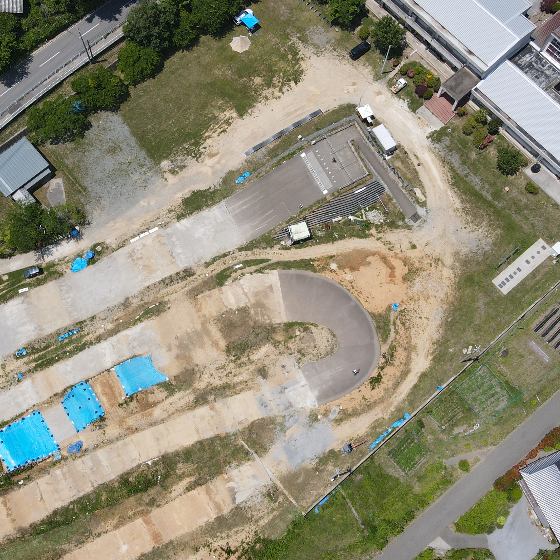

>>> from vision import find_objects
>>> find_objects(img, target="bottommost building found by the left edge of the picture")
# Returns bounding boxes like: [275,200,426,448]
[0,137,50,212]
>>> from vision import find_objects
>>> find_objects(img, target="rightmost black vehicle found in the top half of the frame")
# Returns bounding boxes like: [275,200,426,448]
[348,39,372,59]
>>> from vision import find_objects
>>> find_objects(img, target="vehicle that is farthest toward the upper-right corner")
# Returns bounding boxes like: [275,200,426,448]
[389,74,409,93]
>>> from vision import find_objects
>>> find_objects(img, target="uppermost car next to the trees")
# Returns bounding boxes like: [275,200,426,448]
[231,6,255,28]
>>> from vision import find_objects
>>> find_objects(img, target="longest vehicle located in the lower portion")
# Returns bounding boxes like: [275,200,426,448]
[339,439,370,457]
